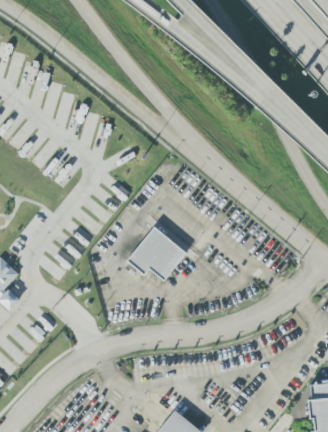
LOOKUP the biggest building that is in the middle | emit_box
[128,227,186,280]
